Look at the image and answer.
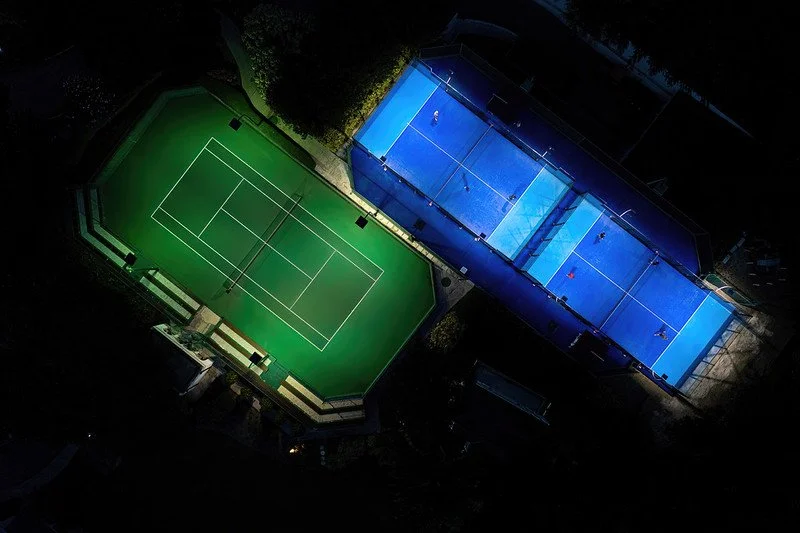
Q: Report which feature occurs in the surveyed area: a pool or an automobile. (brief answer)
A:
pool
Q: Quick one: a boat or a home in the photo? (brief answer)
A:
home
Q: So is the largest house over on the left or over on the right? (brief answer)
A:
left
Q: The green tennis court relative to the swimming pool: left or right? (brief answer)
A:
on the left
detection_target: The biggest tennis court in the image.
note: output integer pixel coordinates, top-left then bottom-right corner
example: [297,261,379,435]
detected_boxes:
[101,91,435,398]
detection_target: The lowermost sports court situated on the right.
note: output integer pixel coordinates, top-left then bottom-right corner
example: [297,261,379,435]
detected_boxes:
[521,196,731,389]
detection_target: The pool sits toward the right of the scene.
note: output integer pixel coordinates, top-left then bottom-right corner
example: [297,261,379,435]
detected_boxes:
[472,363,554,424]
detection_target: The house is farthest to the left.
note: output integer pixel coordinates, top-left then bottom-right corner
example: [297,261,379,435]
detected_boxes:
[128,325,212,399]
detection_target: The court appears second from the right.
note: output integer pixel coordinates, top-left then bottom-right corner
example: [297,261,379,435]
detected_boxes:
[356,67,566,260]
